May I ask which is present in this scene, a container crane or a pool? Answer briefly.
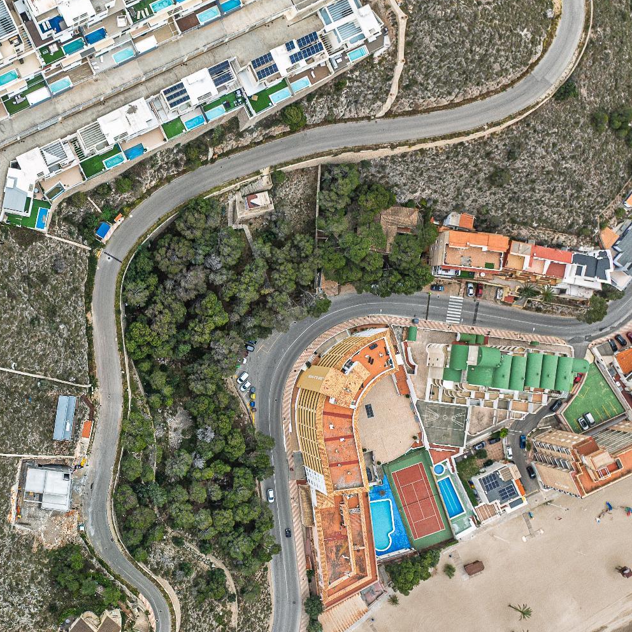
pool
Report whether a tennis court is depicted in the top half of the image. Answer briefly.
No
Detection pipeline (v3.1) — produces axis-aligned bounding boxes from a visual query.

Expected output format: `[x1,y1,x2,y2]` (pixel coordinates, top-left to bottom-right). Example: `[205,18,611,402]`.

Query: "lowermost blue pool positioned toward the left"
[35,208,49,231]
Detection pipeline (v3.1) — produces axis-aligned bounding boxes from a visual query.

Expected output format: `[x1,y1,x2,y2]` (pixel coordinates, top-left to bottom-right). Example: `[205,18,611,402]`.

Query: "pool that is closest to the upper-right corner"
[346,45,368,61]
